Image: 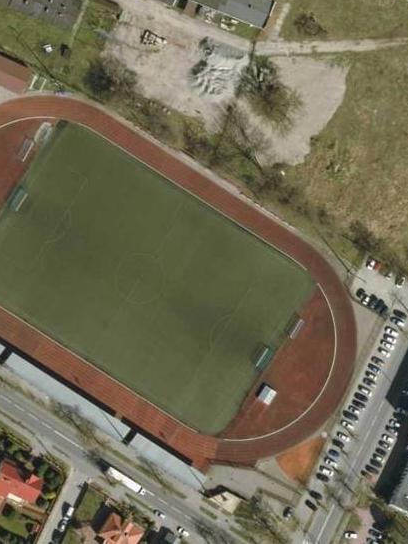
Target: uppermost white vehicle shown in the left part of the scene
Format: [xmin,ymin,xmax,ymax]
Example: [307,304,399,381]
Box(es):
[104,466,146,496]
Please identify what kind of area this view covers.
sports ground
